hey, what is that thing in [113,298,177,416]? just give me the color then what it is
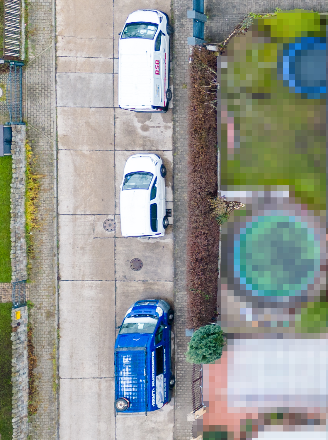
blue van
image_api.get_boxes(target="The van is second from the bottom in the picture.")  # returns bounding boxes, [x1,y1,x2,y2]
[119,151,172,239]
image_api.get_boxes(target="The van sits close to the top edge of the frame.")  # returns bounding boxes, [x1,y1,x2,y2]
[118,9,176,115]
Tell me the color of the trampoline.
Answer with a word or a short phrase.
blue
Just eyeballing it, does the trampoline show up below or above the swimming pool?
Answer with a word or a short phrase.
above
